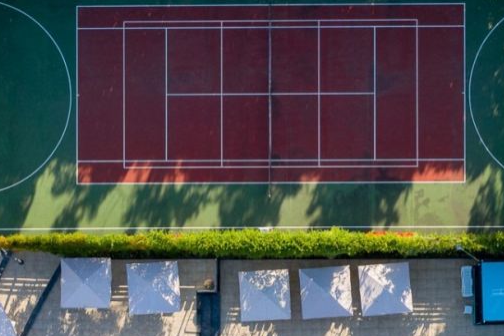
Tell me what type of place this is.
sports ground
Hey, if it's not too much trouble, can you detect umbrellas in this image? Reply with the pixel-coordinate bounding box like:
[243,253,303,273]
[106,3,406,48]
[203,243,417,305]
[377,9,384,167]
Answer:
[300,266,352,319]
[127,261,181,316]
[239,270,291,322]
[60,257,111,309]
[358,262,412,316]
